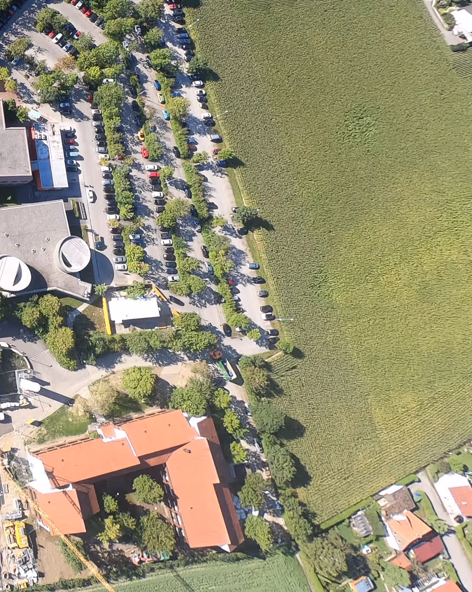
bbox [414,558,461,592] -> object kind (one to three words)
house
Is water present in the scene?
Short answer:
No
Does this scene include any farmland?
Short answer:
Yes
